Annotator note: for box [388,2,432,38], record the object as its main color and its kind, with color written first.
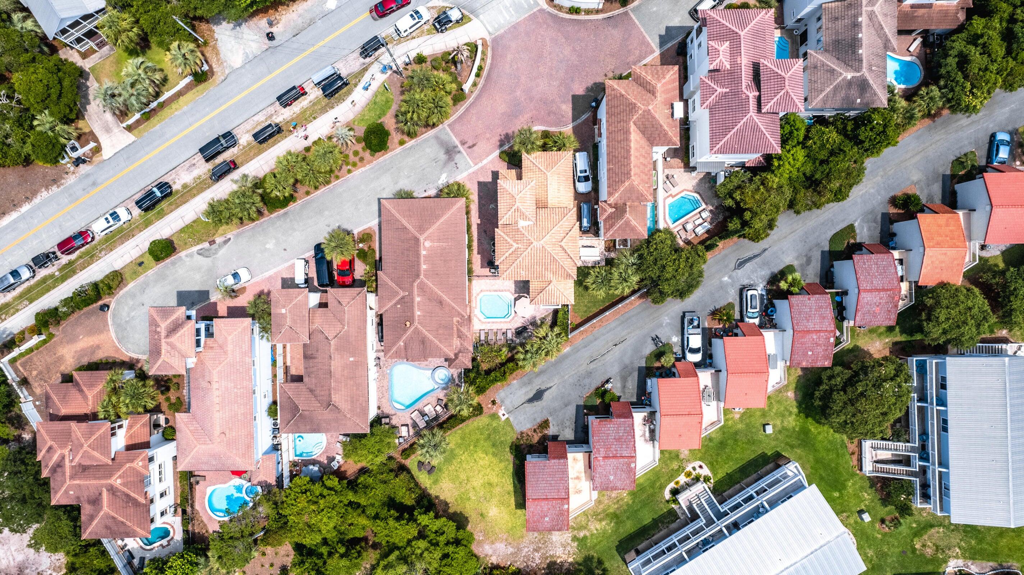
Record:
white car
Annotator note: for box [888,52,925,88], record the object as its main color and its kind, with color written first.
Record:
blue swimming pool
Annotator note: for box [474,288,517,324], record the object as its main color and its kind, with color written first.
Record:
white swimming pool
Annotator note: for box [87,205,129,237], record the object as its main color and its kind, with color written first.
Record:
white car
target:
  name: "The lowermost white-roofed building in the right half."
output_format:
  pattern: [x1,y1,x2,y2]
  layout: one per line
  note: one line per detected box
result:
[618,464,867,575]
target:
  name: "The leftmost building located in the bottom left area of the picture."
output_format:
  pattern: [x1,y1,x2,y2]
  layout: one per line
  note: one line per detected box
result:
[35,371,176,539]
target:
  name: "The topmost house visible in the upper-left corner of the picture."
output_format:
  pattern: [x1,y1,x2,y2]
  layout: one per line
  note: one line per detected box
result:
[21,0,144,67]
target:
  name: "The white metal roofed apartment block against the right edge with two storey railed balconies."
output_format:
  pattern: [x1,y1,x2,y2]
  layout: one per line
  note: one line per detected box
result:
[859,353,1024,527]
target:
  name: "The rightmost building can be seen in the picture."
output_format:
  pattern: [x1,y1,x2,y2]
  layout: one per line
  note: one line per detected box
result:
[956,164,1024,245]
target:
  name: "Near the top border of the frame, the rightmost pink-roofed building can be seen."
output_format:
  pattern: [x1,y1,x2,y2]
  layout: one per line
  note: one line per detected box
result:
[675,7,805,184]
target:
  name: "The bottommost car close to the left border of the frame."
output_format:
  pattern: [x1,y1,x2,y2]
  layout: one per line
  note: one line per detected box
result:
[0,267,34,300]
